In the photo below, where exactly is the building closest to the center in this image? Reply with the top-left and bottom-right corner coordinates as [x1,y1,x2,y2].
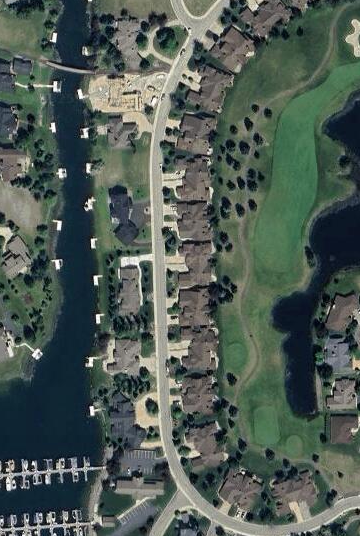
[178,240,214,286]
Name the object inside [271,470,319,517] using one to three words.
house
